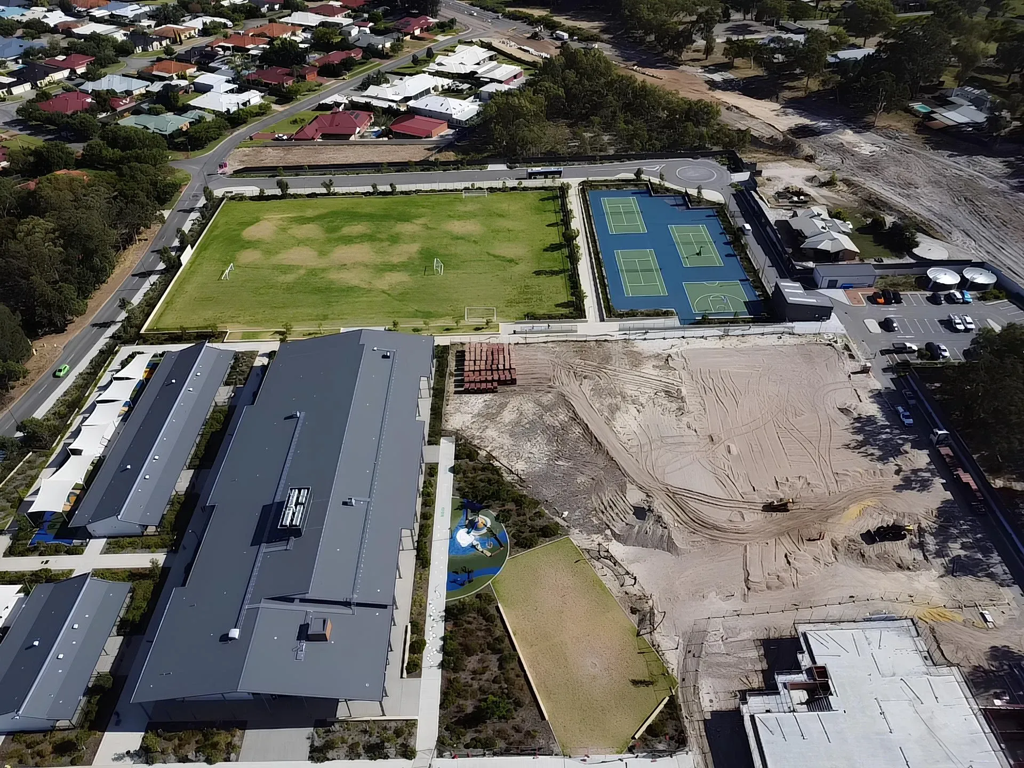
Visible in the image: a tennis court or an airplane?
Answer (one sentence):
Visible in the photo is a tennis court.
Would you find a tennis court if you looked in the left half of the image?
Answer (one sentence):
No, looking in the left half of the image, there is no tennis court.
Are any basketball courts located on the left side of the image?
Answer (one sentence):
No, there's no basketball court to be seen on the left side of the image.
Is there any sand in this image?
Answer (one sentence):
Yes, sand shows up in the scene.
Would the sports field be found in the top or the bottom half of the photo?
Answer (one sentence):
The top half of the photo is where the sports field is.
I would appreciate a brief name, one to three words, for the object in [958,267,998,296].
water tank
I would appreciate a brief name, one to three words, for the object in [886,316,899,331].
vehicle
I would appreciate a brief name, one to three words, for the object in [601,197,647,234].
tennis court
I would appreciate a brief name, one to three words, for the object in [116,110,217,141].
house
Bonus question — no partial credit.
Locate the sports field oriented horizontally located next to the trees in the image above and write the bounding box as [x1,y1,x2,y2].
[146,189,584,331]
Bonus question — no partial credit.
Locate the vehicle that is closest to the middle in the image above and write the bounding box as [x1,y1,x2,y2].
[527,165,562,178]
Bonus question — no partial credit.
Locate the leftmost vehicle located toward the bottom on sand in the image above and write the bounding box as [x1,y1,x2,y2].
[761,495,793,517]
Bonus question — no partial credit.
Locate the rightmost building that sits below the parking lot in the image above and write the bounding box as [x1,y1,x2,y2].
[742,612,1023,768]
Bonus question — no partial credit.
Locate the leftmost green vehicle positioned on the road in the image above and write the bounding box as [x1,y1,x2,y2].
[52,364,70,377]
